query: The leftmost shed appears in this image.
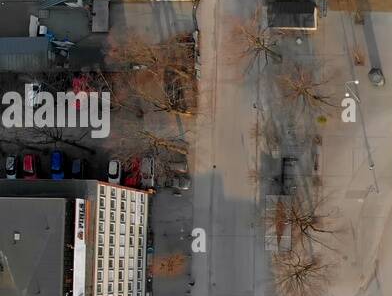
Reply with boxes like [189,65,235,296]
[0,34,46,71]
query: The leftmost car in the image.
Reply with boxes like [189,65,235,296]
[1,152,17,181]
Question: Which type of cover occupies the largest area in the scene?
paved ground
